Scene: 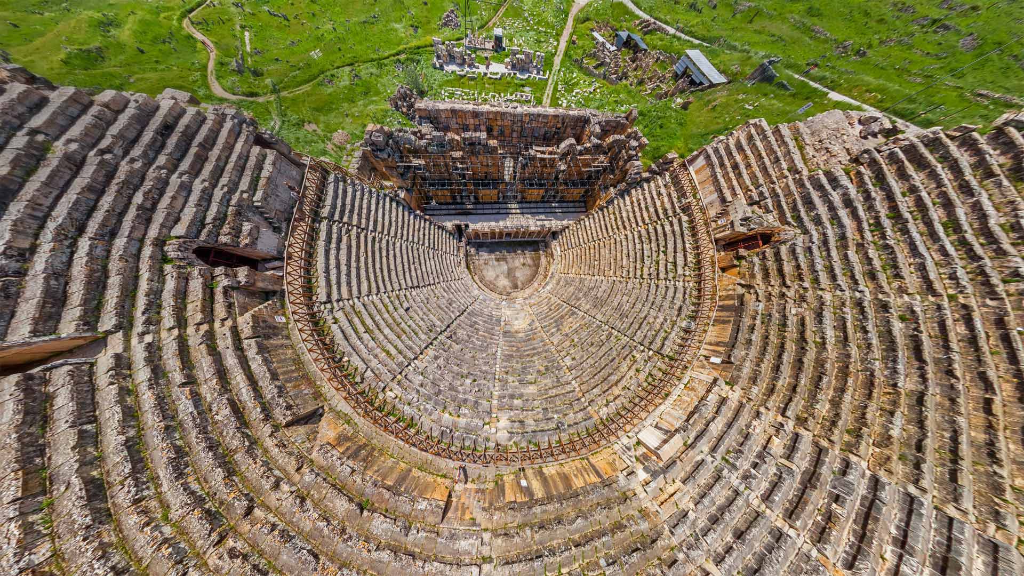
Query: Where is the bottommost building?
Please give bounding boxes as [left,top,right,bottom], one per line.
[349,96,643,243]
